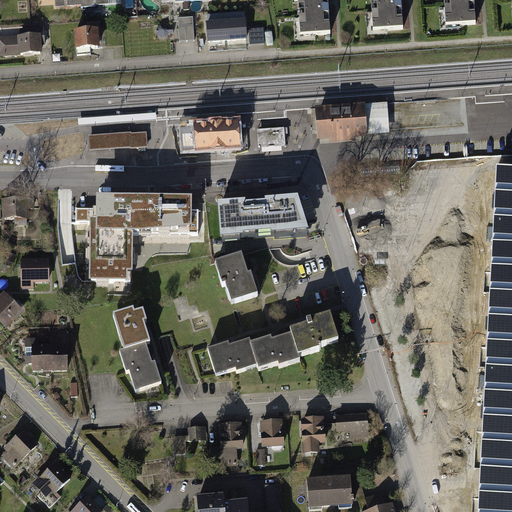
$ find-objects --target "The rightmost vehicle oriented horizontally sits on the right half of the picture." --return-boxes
[355,224,385,236]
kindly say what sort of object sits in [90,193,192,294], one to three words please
building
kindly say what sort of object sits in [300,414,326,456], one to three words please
house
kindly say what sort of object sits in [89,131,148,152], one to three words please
shed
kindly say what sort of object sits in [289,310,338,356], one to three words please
building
